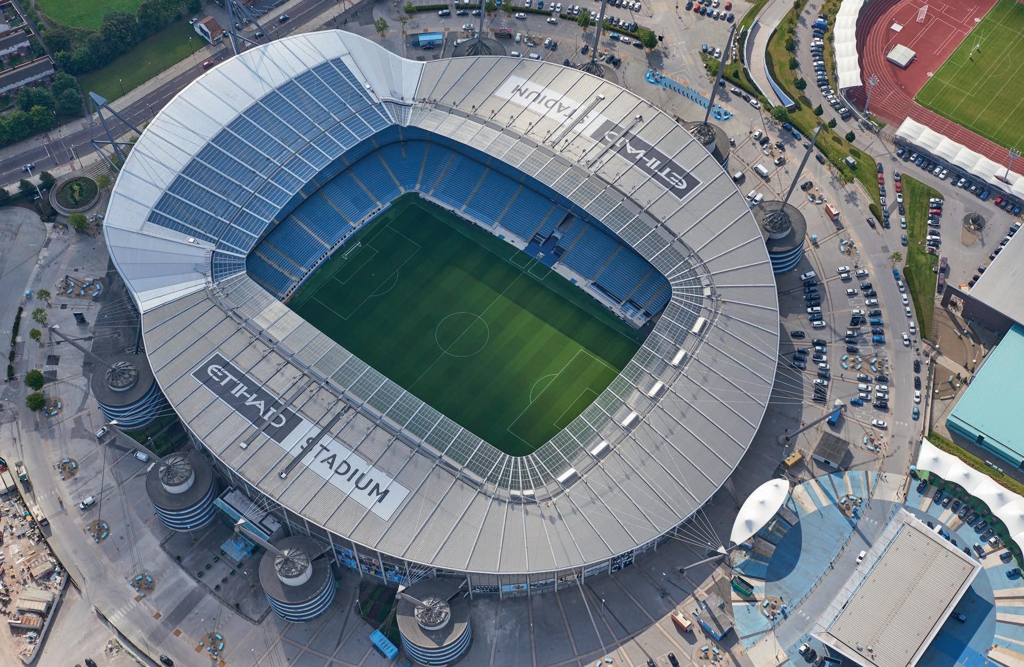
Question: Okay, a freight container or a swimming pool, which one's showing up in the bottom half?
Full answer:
Looking in the bottom half, you will find a freight container.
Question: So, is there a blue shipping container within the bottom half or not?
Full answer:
Yes, there is a blue shipping container within the bottom half.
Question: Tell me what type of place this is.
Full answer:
This looks like a sports ground.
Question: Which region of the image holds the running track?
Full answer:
The running track is located in the top right region of the scene.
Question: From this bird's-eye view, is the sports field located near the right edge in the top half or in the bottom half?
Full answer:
The top half of the photo is where the sports field located near the right edge is.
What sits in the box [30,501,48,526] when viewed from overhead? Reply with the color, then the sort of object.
white vehicle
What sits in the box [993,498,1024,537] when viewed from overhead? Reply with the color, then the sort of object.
white tent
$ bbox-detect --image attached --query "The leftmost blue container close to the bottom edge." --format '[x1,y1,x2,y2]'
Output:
[369,631,399,662]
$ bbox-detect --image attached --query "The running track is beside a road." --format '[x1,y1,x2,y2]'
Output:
[834,0,1024,176]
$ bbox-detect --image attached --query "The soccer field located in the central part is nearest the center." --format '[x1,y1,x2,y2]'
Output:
[282,195,649,490]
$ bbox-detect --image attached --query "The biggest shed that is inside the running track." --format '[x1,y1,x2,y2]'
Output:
[885,45,917,67]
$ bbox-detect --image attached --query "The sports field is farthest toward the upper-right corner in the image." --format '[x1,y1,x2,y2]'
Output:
[913,0,1024,156]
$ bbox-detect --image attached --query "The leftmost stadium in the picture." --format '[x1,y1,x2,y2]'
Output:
[102,30,778,599]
